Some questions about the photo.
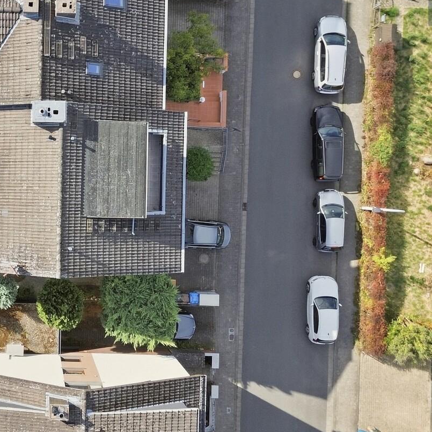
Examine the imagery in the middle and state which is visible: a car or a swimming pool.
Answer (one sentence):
You can see a car in the middle.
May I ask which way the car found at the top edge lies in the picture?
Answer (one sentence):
Seen from above, the car found at the top edge lies vertically.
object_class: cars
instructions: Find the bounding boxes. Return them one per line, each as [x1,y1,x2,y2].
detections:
[311,189,348,253]
[312,17,350,94]
[310,105,348,180]
[187,220,231,249]
[305,275,342,344]
[170,310,194,342]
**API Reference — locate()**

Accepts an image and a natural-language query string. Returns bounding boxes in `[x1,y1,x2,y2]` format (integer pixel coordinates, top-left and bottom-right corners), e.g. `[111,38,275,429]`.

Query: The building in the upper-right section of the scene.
[374,21,397,40]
